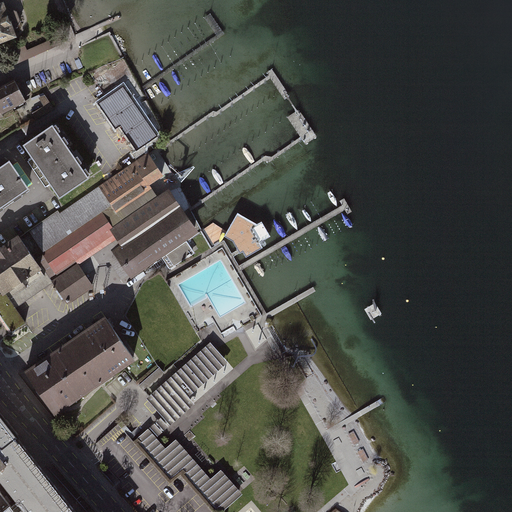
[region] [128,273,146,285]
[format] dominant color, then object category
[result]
white vehicle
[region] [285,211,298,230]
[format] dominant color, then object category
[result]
white boat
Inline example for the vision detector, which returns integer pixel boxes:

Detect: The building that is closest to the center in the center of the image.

[226,214,270,256]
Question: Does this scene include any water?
Yes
